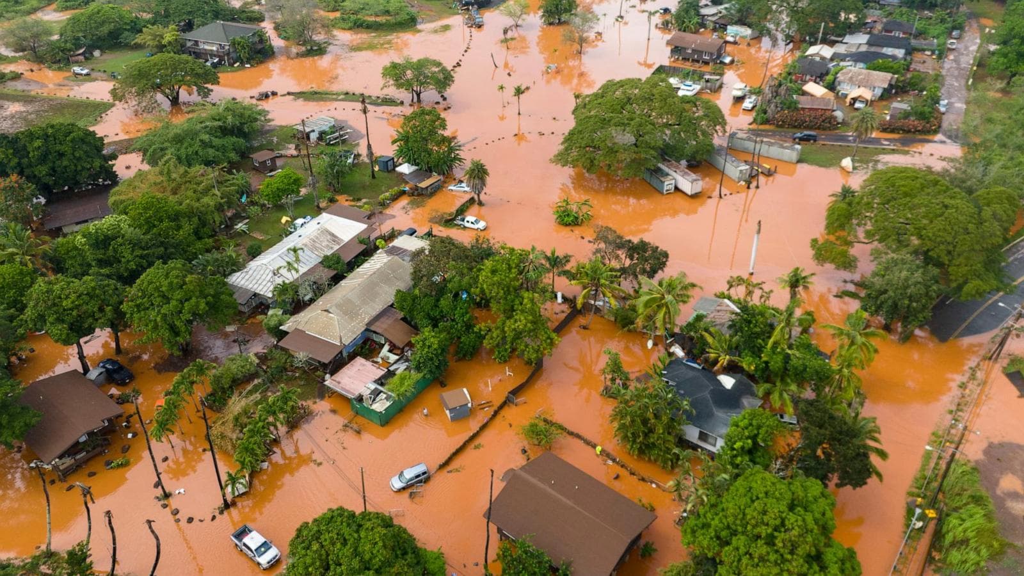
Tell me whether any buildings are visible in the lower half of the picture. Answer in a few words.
Yes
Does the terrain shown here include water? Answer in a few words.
Yes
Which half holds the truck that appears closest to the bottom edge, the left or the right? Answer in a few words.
left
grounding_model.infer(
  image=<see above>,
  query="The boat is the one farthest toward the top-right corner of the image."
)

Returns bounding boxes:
[731,78,750,95]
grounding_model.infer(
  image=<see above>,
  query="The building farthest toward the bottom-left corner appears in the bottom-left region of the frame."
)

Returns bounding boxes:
[14,373,128,480]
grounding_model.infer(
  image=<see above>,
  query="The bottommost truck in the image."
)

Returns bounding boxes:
[229,525,279,567]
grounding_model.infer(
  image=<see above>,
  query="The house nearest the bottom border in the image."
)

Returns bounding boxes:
[482,454,660,576]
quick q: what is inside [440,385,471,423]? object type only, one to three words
shed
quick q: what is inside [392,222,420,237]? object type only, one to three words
car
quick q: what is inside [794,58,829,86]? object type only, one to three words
house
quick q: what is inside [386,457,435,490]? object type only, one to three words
vehicle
